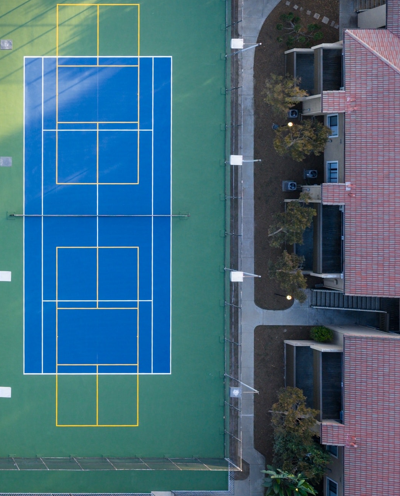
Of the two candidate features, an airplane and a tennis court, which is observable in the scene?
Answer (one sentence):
This aerial view contains a tennis court.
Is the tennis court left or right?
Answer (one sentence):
The tennis court appears in the left half of the scene.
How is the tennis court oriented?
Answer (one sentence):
The tennis court runs up and down in the image.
